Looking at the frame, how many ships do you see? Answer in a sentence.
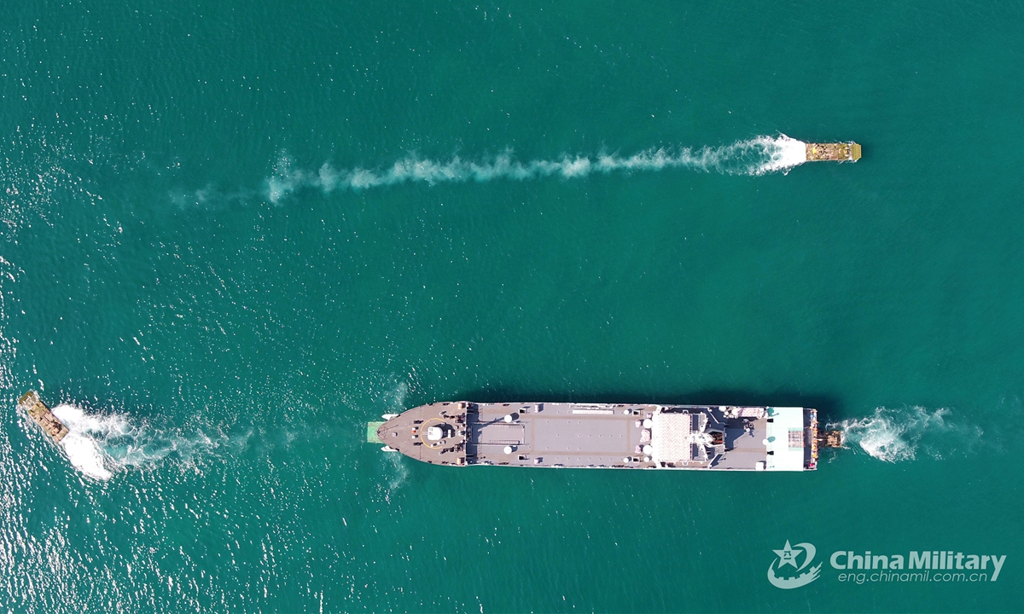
In total, 1 ship can be seen.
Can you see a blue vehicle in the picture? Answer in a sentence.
No, no blue vehicle is visible in the scene.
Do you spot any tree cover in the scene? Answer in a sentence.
No, there's no tree cover in this view.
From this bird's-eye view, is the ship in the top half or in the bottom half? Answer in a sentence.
The ship sits in the bottom half of the picture.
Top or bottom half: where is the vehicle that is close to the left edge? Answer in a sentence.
The bottom half of the photo is where the vehicle that is close to the left edge is.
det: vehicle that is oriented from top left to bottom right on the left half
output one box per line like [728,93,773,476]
[20,392,69,441]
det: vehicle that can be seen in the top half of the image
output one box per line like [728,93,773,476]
[804,144,860,162]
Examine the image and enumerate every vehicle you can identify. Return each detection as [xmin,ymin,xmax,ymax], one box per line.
[20,392,69,441]
[804,144,860,162]
[821,429,842,447]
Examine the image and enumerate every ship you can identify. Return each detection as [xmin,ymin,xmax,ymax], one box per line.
[367,401,828,471]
